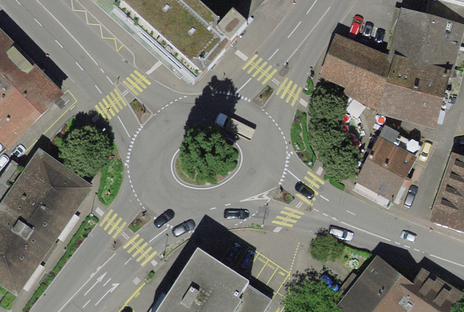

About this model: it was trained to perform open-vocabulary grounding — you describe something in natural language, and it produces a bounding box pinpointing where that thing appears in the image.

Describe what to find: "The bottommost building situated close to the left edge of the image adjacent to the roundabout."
[0,149,92,296]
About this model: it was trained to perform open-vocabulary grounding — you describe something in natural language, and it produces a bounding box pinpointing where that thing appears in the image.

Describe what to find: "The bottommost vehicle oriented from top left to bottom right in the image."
[321,273,340,292]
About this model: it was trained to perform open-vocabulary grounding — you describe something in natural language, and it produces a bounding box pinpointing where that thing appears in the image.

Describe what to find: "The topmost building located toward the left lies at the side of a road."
[104,0,248,87]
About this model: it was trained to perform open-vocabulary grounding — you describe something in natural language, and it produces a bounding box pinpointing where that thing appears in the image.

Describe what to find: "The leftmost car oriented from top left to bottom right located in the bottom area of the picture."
[294,180,316,201]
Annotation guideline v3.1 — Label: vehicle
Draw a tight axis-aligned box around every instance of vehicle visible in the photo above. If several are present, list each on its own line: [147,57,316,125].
[239,249,258,270]
[0,153,12,172]
[350,14,364,36]
[362,20,374,39]
[329,226,354,242]
[214,112,258,141]
[294,180,316,201]
[404,186,418,208]
[401,230,416,242]
[452,136,464,146]
[172,220,196,238]
[420,140,433,162]
[374,26,386,45]
[225,208,249,220]
[154,209,176,230]
[10,142,28,160]
[321,273,340,292]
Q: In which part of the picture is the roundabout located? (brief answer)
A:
center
